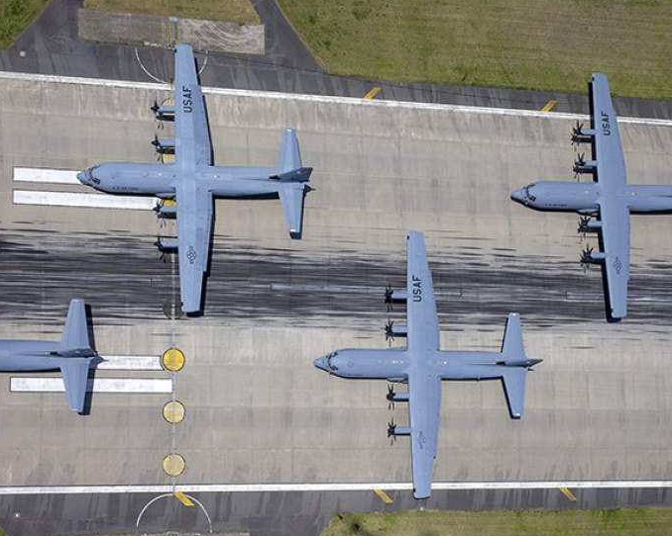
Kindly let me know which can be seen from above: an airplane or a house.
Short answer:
airplane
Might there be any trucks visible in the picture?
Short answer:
No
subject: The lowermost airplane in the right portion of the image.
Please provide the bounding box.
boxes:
[311,231,542,498]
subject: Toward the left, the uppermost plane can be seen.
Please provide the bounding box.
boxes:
[76,44,313,311]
